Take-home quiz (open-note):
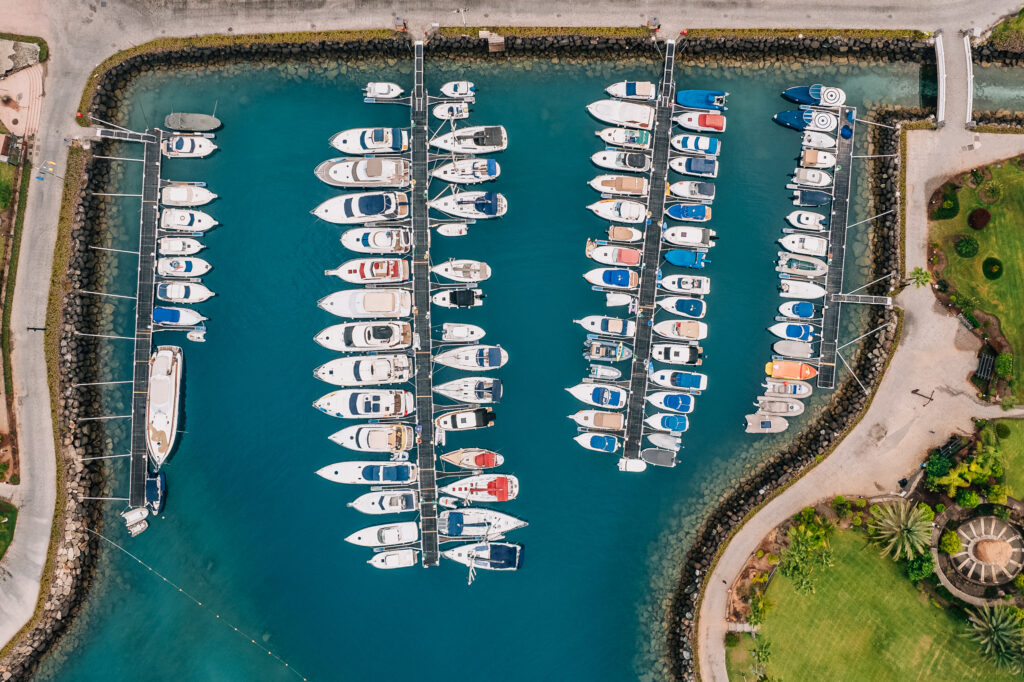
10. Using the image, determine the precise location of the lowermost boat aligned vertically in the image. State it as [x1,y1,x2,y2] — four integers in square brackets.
[144,471,165,516]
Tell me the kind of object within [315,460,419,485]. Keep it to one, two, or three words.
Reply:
boat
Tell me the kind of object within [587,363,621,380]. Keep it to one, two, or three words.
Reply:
boat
